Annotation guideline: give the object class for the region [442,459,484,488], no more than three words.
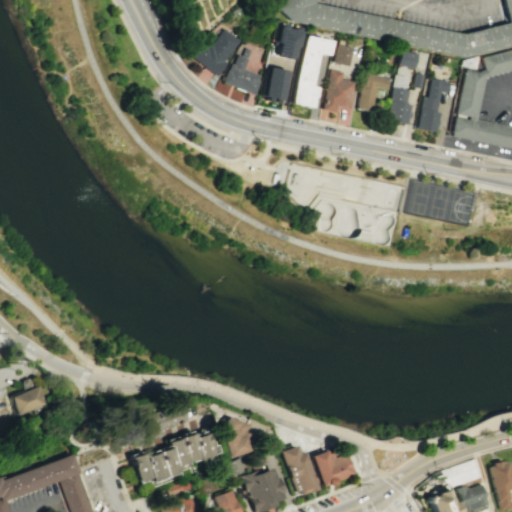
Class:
building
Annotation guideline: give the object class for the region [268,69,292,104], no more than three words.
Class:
house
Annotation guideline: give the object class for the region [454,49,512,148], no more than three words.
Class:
building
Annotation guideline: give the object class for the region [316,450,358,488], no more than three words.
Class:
house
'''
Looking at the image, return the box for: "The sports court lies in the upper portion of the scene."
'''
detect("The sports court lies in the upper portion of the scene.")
[404,178,475,224]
